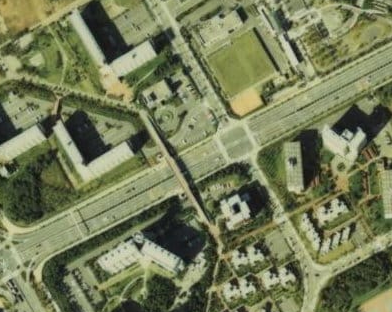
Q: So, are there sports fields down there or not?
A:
Yes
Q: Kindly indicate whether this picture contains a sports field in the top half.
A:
Yes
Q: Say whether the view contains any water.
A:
No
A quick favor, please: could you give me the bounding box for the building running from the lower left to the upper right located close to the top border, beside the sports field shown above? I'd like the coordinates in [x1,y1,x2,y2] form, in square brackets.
[198,11,244,46]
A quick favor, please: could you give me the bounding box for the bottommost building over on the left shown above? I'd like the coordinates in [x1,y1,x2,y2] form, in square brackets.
[97,234,185,274]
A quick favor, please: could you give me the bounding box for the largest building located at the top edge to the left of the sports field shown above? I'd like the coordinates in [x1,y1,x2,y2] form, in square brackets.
[70,10,157,78]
